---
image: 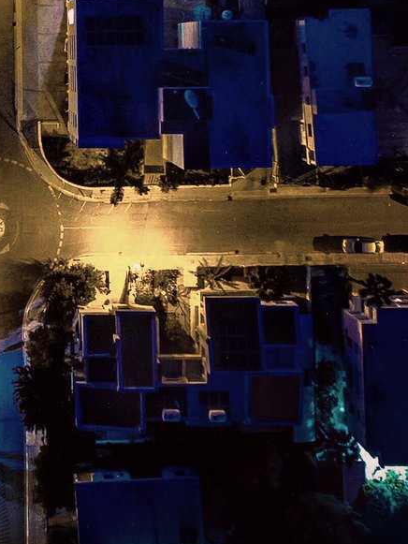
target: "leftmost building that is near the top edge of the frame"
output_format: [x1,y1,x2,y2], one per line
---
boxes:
[70,0,273,169]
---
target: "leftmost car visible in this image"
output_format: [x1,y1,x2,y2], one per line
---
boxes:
[341,237,384,256]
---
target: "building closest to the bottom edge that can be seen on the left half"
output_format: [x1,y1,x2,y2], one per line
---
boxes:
[71,455,201,544]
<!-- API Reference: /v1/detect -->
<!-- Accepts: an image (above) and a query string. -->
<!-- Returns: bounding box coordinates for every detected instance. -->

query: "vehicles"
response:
[385,236,408,254]
[341,237,384,256]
